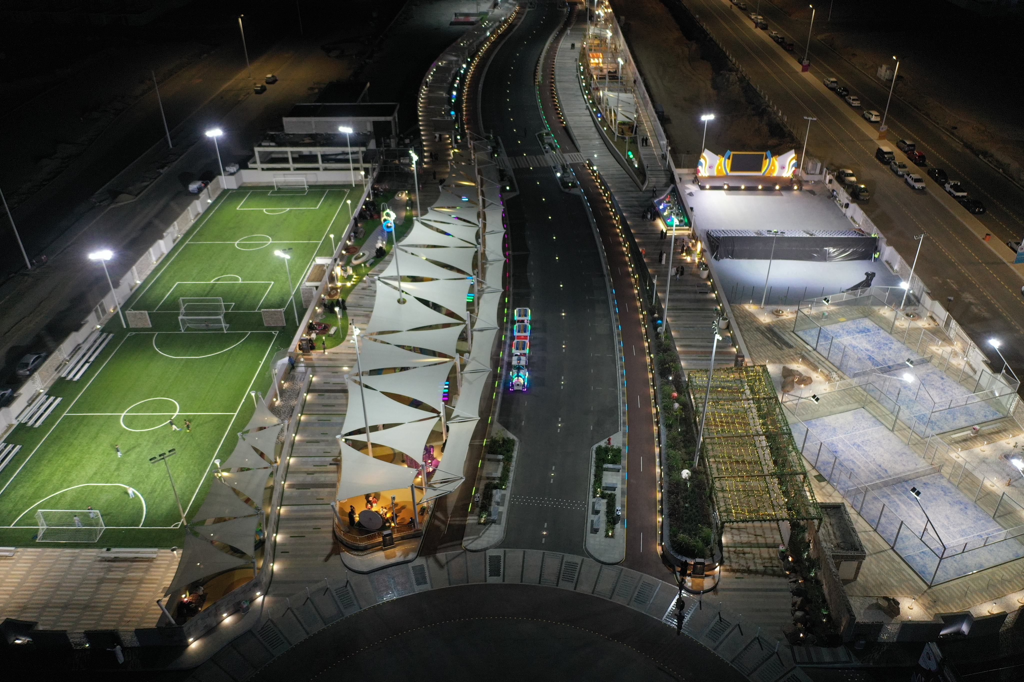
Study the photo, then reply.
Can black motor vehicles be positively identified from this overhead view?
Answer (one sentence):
Yes, a black motor vehicle is visible in the scene.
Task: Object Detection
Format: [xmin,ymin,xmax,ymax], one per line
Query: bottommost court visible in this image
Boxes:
[774,367,1024,587]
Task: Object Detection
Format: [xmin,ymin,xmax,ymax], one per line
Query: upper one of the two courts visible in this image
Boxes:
[794,278,1024,440]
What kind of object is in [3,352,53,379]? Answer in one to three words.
car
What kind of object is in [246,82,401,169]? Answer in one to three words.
building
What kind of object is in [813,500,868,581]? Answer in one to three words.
shed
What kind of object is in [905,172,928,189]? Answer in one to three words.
vehicle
